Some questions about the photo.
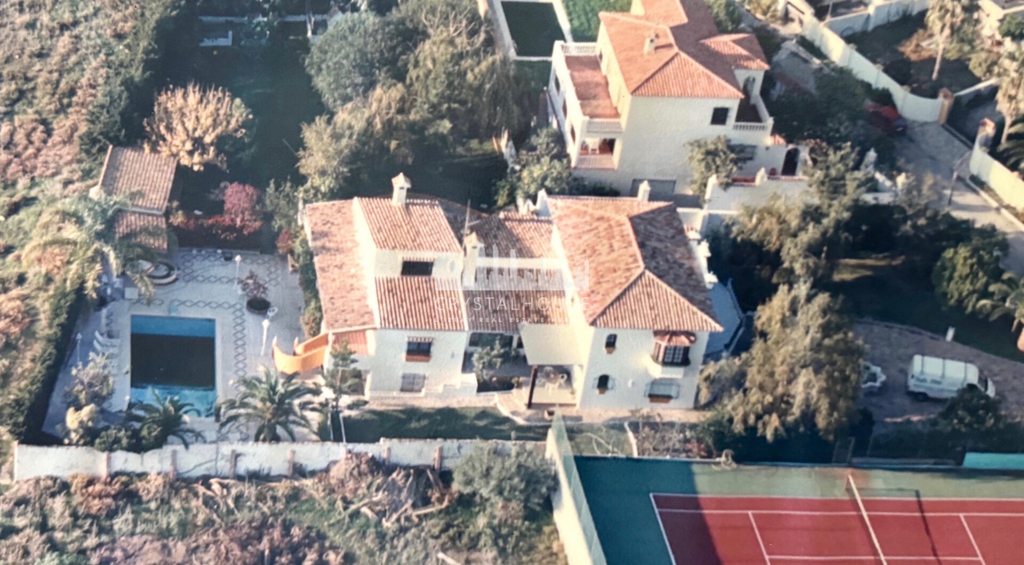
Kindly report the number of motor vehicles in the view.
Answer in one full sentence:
I count 3 motor vehicles.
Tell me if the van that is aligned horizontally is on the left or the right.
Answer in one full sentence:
You can find the van that is aligned horizontally on the right side of the picture.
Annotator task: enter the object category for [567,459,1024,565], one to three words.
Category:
tennis court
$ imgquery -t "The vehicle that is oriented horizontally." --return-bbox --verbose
[903,351,994,397]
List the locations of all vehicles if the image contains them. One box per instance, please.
[858,357,892,390]
[903,351,994,397]
[866,99,918,131]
